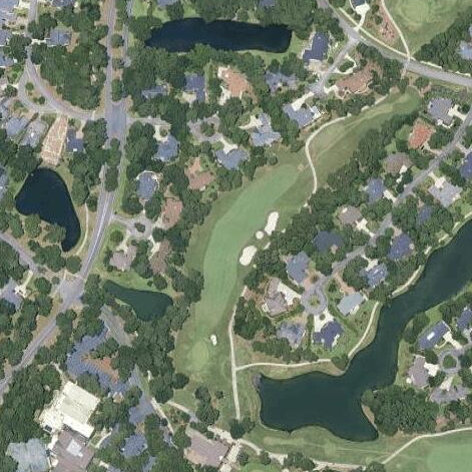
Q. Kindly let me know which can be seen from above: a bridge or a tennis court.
tennis court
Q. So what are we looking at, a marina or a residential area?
residential area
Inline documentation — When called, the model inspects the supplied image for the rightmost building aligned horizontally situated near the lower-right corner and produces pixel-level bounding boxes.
[430,383,467,405]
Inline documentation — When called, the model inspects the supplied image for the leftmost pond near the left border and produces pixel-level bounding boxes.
[16,168,81,251]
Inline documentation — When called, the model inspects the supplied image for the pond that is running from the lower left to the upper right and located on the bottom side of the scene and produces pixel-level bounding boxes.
[259,221,472,442]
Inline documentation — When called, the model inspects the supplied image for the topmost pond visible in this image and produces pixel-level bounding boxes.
[145,19,291,53]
